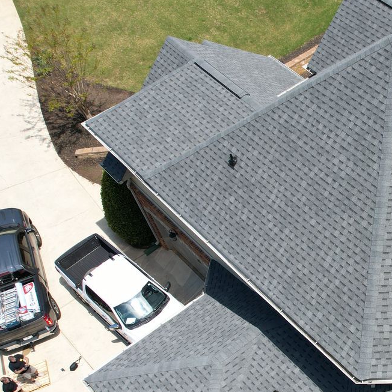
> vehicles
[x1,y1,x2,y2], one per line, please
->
[54,235,180,346]
[0,208,68,369]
